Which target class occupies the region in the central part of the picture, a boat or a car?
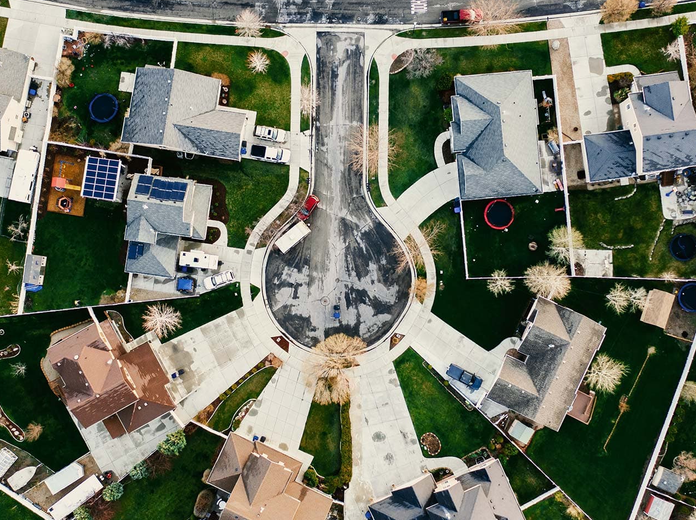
car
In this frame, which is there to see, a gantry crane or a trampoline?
trampoline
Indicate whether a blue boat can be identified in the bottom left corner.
No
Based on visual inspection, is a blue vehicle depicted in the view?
Yes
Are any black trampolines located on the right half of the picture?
Yes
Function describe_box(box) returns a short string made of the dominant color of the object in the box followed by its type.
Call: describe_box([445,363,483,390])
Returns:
blue truck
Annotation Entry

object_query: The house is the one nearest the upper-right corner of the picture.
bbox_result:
[580,71,696,182]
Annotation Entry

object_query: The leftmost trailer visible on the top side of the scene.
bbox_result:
[10,147,44,204]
